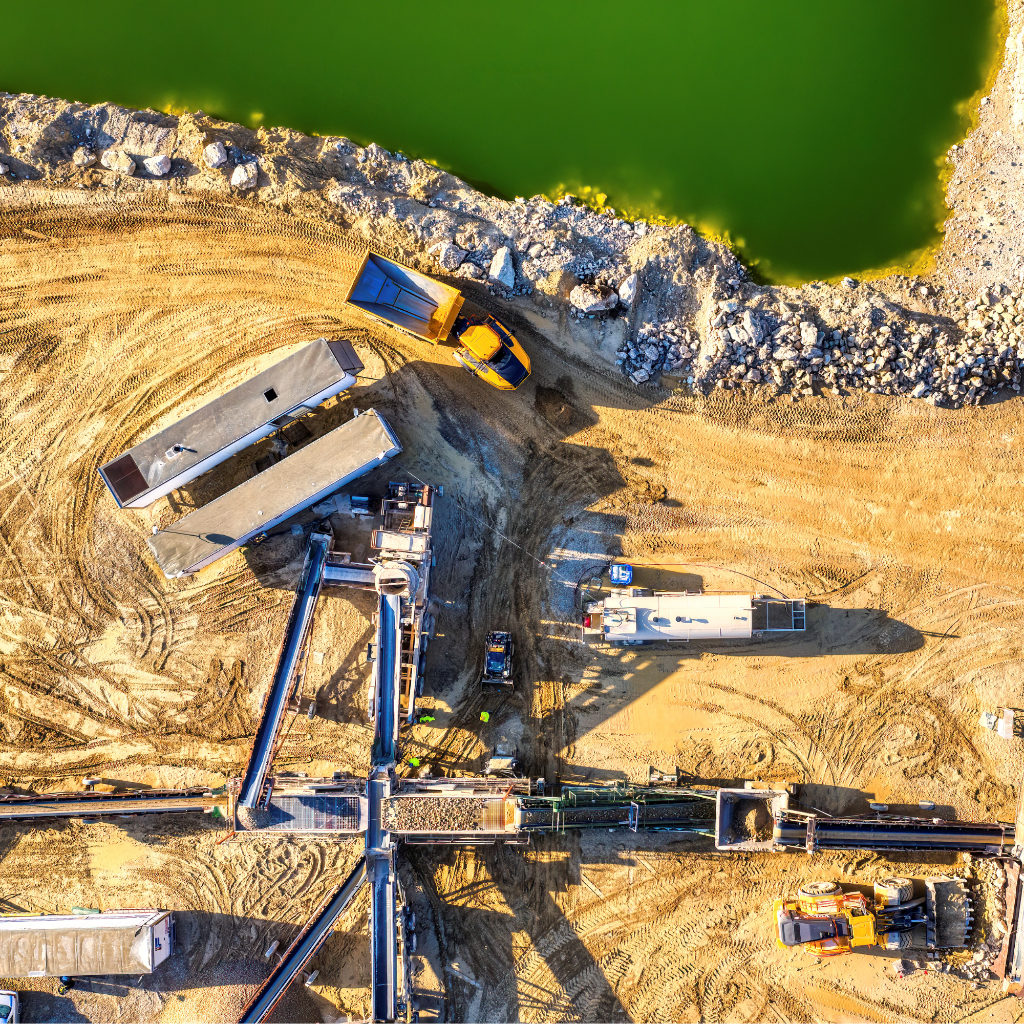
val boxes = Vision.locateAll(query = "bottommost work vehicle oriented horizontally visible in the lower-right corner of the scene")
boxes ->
[769,875,971,957]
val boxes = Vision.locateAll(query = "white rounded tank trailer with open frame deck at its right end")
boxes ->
[581,587,806,645]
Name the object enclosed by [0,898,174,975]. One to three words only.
trailer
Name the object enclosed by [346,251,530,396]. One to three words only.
truck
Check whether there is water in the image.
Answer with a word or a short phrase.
Yes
